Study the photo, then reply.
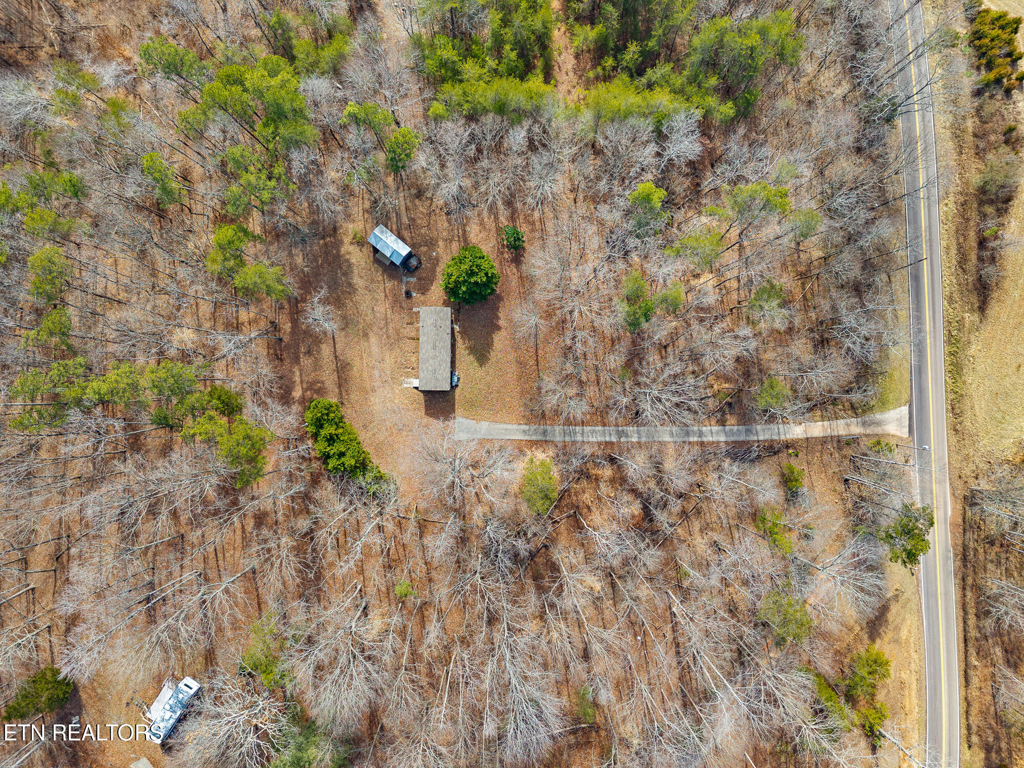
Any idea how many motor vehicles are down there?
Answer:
2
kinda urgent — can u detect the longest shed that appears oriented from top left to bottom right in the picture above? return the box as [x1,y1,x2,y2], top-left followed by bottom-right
[369,225,412,266]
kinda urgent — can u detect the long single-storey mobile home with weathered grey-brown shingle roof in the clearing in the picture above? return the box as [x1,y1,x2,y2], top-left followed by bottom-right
[419,307,452,391]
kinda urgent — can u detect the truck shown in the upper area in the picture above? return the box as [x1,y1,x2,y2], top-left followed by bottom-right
[402,253,425,275]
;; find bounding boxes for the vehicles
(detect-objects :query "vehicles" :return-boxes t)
[402,253,425,275]
[148,672,205,742]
